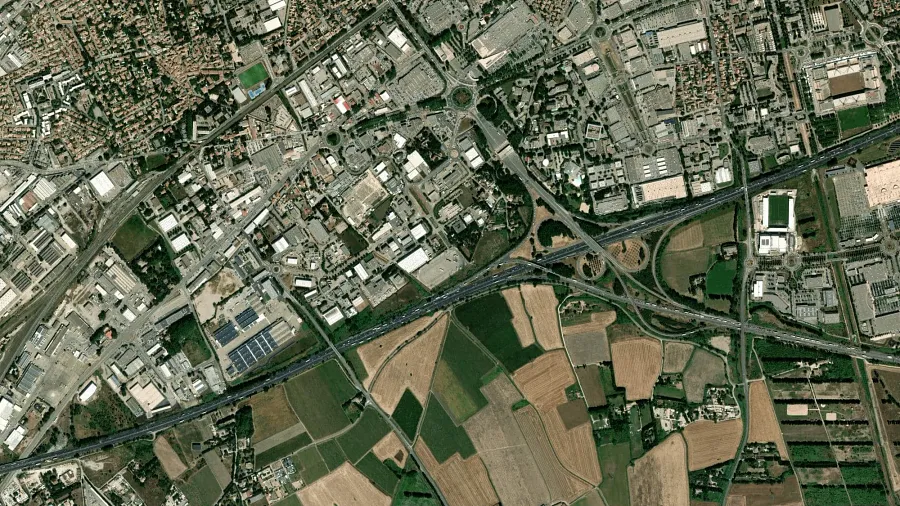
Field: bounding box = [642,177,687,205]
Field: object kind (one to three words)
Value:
building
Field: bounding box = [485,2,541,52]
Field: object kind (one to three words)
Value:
building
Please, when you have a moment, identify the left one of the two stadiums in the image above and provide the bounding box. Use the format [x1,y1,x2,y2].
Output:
[759,190,796,253]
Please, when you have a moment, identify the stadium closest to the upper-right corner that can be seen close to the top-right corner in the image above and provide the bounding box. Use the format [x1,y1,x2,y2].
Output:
[801,48,890,119]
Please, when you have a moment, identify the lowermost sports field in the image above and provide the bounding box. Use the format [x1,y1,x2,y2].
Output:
[769,195,789,228]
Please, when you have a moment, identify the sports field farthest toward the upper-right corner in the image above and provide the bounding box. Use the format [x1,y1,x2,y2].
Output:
[829,71,866,98]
